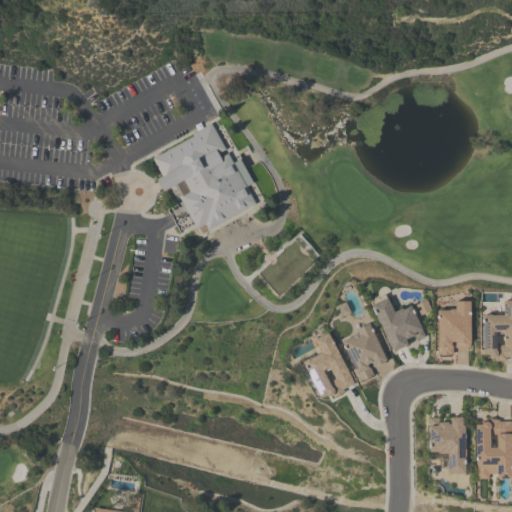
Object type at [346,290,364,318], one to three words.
swimming pool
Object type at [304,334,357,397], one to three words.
house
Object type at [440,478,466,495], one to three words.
swimming pool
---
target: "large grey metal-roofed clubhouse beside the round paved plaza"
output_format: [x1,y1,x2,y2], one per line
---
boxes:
[153,122,257,233]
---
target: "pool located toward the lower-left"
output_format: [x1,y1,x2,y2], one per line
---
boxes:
[112,480,135,492]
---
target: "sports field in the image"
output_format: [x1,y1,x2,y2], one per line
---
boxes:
[0,210,71,384]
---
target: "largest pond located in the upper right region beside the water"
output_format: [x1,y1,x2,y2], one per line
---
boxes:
[348,83,479,192]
